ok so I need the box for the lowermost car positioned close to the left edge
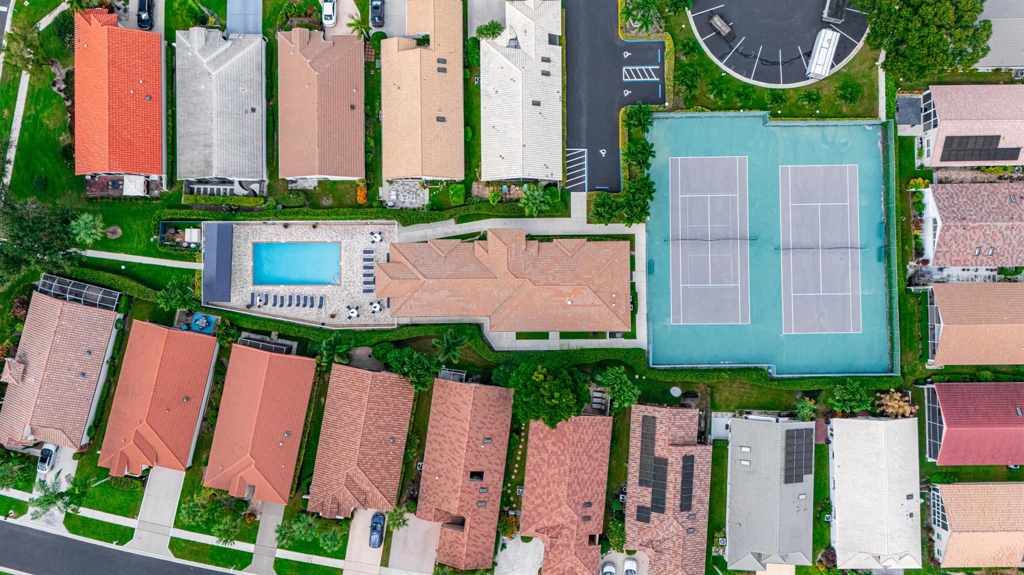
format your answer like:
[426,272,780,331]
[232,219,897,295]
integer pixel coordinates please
[37,442,59,474]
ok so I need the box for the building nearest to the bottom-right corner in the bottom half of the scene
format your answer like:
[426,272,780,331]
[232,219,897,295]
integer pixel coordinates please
[934,482,1024,569]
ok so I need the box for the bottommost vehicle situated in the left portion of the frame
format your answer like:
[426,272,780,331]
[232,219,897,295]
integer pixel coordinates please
[369,512,386,548]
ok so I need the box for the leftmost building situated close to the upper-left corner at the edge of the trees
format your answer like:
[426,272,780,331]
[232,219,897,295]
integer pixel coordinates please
[74,8,168,176]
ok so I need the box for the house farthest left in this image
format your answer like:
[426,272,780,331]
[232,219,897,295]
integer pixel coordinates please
[0,291,120,450]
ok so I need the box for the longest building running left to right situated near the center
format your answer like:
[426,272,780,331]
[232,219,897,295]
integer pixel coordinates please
[375,228,630,332]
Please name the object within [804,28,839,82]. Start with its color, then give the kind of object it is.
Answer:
white trailer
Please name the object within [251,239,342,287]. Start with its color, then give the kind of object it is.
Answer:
blue swimming pool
